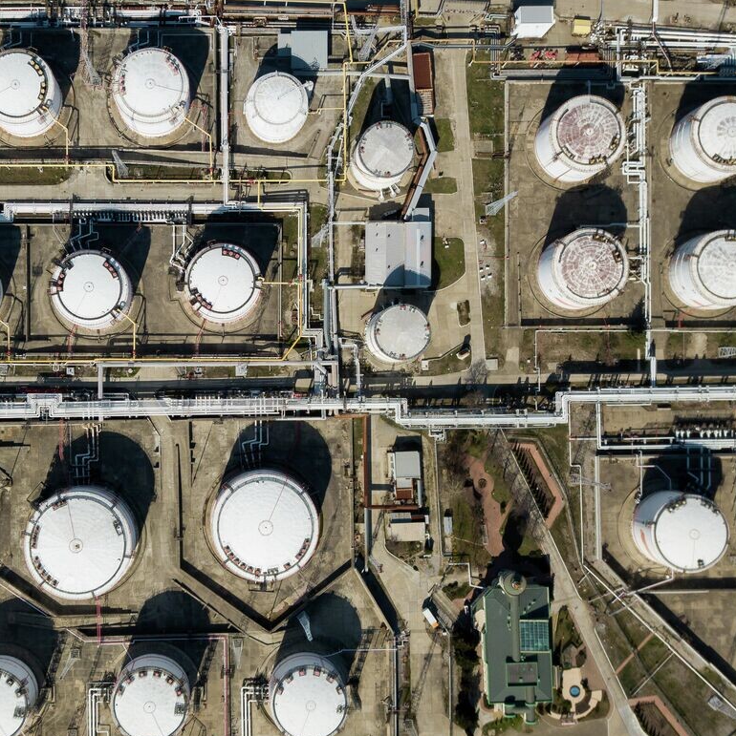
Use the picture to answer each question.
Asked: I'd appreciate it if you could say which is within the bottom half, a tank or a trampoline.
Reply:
tank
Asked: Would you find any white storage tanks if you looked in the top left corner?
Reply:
Yes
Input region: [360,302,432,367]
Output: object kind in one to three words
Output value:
storage tank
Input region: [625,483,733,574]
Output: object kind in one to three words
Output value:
storage tank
